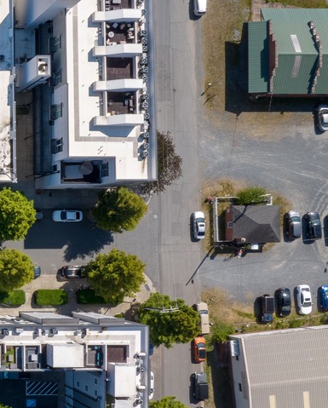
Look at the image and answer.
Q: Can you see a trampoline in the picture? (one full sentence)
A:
No, no trampoline is visible in the scene.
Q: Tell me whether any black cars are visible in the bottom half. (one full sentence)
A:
Yes, I can see a black car in the bottom half.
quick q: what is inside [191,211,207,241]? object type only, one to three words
car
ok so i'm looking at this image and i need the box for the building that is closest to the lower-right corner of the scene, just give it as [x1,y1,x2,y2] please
[233,324,328,408]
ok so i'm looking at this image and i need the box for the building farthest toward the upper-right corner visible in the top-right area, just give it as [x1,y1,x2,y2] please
[236,9,328,98]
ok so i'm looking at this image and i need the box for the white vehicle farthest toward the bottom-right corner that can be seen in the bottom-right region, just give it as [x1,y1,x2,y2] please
[295,284,312,313]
